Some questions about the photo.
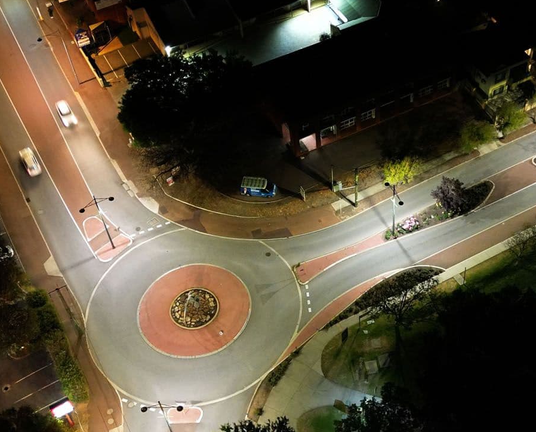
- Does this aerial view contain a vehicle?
Yes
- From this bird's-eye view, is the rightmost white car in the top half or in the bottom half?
top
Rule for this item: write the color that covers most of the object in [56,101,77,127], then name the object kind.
white car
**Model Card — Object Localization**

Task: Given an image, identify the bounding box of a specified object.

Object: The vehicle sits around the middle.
[239,173,278,195]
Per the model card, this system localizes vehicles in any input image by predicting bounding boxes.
[18,149,42,177]
[56,101,77,127]
[239,173,278,195]
[0,244,15,261]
